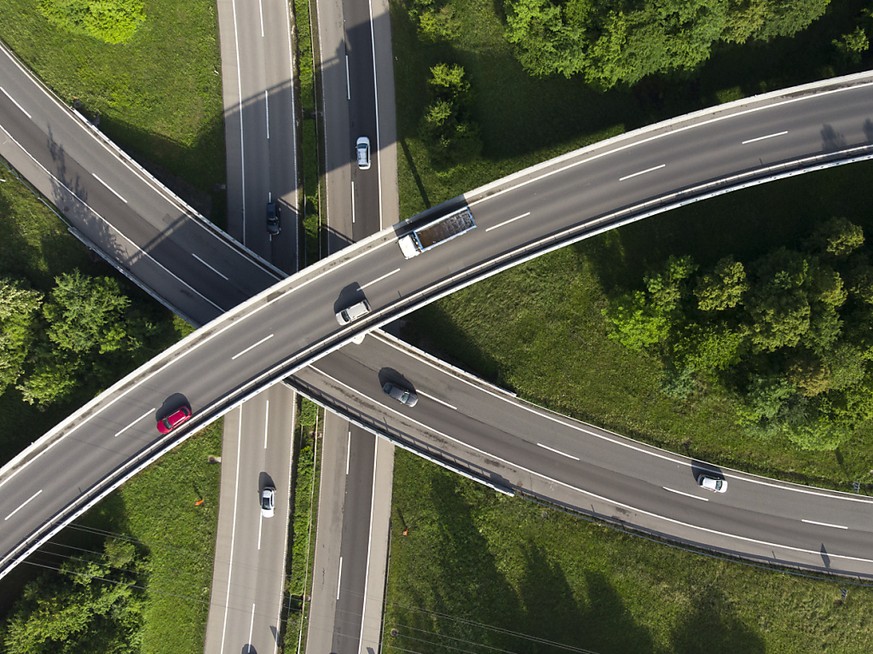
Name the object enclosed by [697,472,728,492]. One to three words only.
car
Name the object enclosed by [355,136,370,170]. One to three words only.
car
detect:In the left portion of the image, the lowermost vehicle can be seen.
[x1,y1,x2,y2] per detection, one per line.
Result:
[259,487,276,518]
